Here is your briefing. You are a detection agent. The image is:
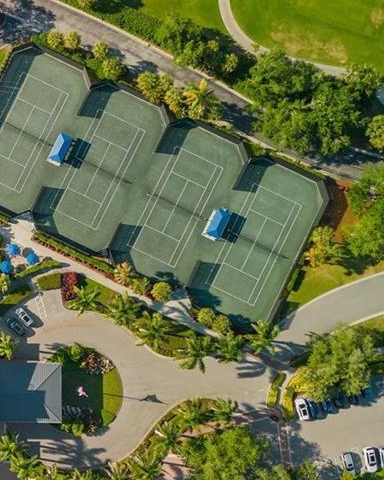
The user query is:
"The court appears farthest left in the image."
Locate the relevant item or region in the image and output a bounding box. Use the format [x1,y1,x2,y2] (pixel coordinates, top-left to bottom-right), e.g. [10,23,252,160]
[0,47,90,215]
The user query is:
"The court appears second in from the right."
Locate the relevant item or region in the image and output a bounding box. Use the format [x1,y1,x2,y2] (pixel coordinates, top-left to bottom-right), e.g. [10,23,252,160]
[111,120,247,288]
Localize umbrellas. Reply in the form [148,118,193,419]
[26,252,39,265]
[0,259,13,272]
[7,243,20,257]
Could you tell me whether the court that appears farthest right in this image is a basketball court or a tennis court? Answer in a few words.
tennis court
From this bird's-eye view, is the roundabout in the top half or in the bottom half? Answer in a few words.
bottom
